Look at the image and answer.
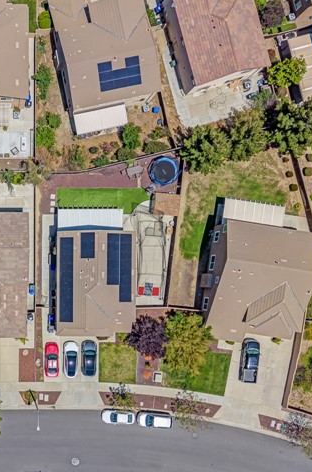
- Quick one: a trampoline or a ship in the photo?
trampoline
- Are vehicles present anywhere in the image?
Yes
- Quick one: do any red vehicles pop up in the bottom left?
Yes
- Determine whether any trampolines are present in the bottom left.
No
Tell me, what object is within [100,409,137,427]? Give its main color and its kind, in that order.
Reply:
white car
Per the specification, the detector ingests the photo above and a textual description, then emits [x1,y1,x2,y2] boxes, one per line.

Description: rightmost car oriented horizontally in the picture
[136,411,174,429]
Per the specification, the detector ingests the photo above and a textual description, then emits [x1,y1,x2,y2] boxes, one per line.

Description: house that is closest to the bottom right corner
[200,196,312,348]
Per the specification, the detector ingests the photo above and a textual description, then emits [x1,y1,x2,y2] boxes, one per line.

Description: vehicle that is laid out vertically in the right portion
[240,339,262,384]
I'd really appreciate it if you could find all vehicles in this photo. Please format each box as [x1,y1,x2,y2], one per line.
[136,411,174,429]
[62,341,80,378]
[81,340,98,377]
[43,341,61,378]
[100,409,137,427]
[240,339,262,384]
